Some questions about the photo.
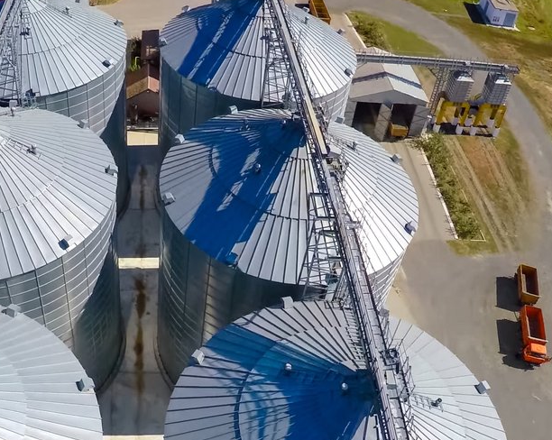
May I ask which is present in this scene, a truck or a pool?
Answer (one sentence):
Of the two, only a truck appears.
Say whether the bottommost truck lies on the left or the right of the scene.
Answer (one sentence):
It is on the right.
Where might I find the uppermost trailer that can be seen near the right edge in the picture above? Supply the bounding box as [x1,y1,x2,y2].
[509,261,538,308]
